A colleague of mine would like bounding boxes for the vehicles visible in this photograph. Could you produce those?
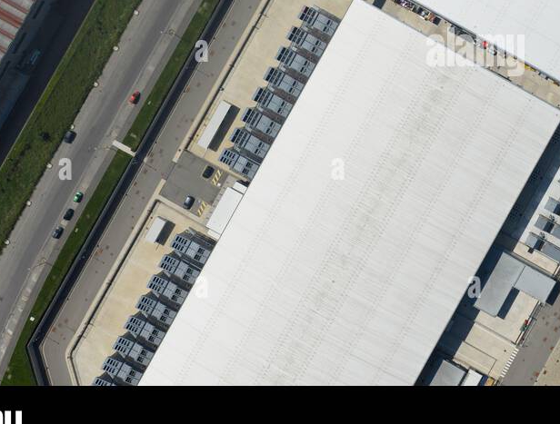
[53,226,64,239]
[73,191,83,203]
[64,208,74,221]
[130,91,141,104]
[65,129,75,143]
[203,165,215,178]
[184,195,195,209]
